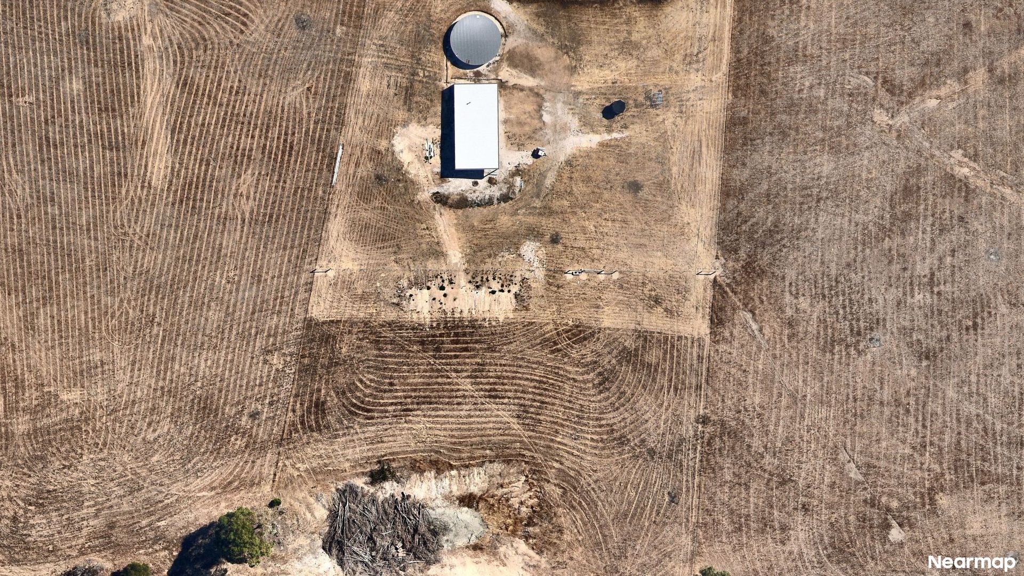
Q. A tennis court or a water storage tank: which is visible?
water storage tank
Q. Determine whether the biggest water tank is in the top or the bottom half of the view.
top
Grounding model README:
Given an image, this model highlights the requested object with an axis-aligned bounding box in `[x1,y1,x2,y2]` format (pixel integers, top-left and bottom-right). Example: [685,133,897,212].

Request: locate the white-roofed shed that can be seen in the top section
[455,83,499,169]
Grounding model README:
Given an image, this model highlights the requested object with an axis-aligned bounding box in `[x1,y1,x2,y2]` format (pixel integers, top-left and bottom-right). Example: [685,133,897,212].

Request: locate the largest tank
[450,14,502,66]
